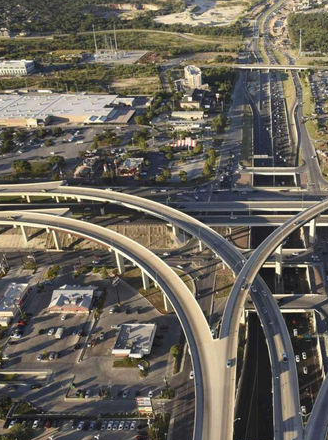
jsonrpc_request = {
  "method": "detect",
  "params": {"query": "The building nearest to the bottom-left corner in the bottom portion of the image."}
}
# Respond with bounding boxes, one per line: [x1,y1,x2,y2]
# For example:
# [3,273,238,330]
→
[0,284,29,326]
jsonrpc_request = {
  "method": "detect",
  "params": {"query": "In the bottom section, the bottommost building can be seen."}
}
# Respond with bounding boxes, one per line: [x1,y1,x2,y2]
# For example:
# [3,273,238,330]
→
[111,323,158,364]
